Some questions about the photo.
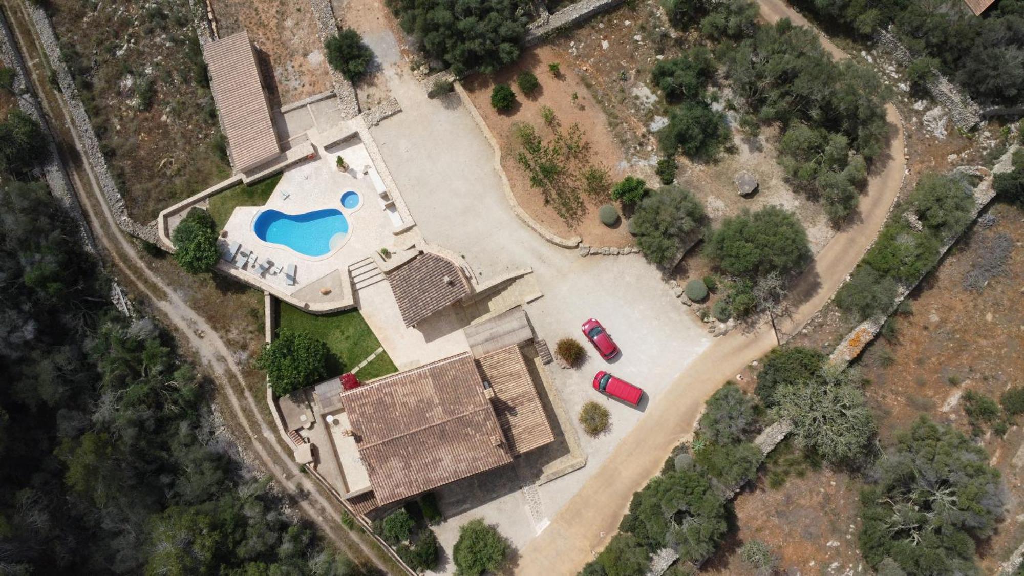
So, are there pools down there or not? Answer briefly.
Yes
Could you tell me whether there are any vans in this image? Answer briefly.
Yes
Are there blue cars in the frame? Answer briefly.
No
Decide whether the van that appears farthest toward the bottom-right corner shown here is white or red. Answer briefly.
red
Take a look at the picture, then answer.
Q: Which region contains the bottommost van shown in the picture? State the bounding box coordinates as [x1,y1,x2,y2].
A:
[591,369,644,408]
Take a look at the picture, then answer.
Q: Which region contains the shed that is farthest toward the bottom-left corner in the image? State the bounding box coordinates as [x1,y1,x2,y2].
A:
[297,442,321,465]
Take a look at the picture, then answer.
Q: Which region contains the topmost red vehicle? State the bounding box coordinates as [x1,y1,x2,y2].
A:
[582,317,620,363]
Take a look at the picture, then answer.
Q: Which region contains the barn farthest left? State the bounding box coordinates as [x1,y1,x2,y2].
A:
[203,30,287,178]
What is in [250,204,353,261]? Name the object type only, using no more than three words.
swimming pool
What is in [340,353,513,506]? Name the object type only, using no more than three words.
house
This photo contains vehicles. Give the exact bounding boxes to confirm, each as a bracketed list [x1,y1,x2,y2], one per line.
[591,369,644,408]
[582,317,620,363]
